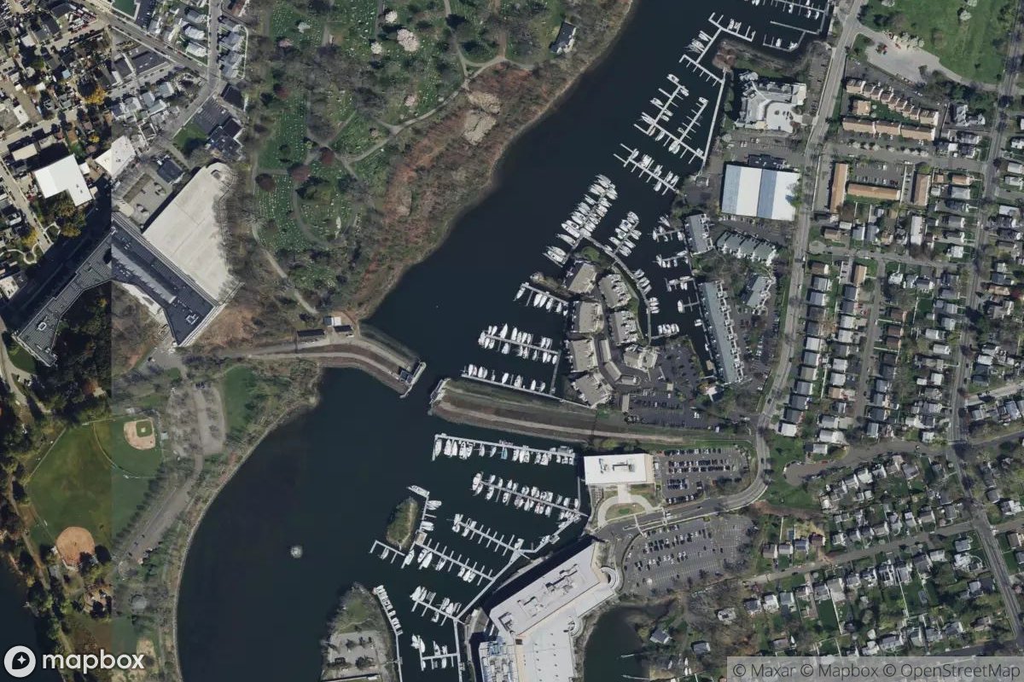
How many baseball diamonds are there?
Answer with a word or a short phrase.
2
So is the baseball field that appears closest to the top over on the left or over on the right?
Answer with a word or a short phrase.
left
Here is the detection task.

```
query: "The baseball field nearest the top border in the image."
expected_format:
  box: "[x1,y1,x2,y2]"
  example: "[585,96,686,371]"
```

[81,415,163,478]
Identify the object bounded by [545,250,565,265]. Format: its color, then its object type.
white boat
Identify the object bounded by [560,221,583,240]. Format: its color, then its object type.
white boat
